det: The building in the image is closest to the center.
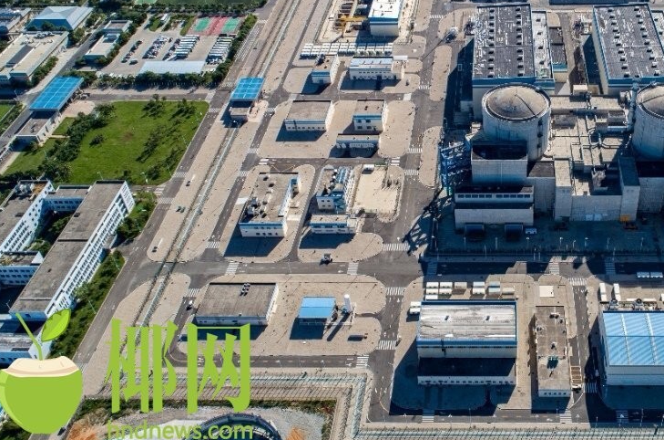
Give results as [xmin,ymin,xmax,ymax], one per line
[310,215,351,233]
